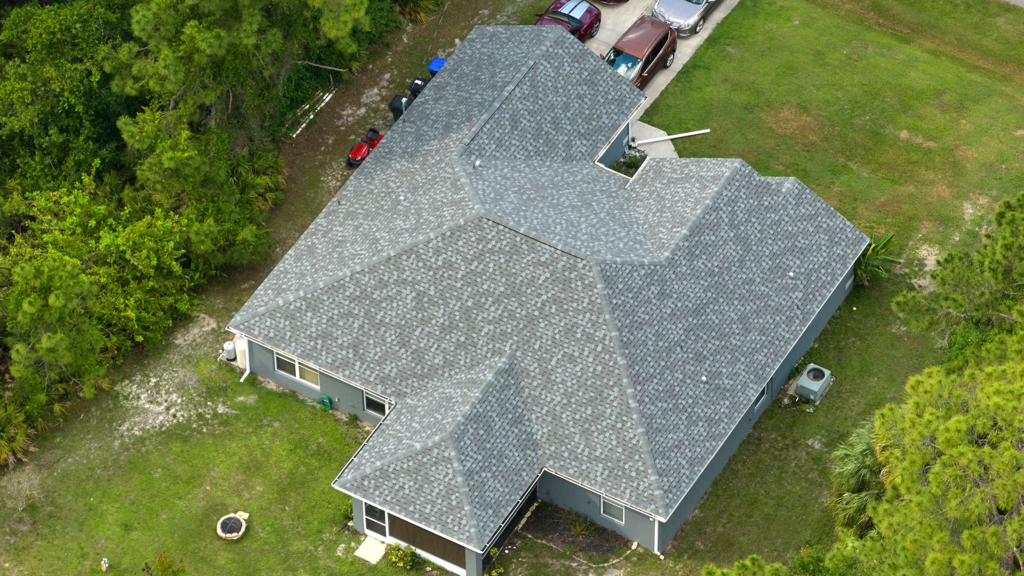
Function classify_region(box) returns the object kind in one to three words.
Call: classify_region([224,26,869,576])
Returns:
house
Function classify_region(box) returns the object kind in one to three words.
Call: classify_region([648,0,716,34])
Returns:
car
